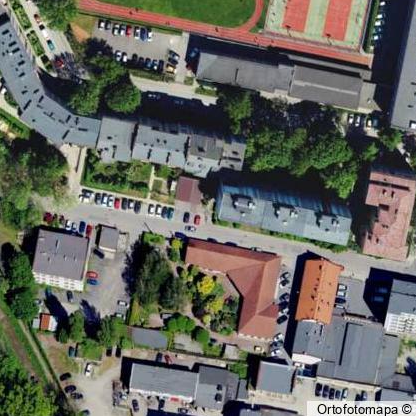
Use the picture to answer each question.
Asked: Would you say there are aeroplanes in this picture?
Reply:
No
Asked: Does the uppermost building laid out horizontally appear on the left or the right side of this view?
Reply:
right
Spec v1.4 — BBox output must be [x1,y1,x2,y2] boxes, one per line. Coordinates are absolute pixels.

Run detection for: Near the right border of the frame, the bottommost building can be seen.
[377,391,416,416]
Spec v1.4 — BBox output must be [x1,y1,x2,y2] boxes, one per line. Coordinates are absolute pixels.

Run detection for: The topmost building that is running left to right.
[196,51,381,111]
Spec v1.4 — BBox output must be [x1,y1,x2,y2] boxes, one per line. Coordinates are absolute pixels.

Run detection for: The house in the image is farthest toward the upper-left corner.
[98,116,138,166]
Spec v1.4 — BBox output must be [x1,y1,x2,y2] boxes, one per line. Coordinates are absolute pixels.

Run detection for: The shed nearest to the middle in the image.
[174,175,202,204]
